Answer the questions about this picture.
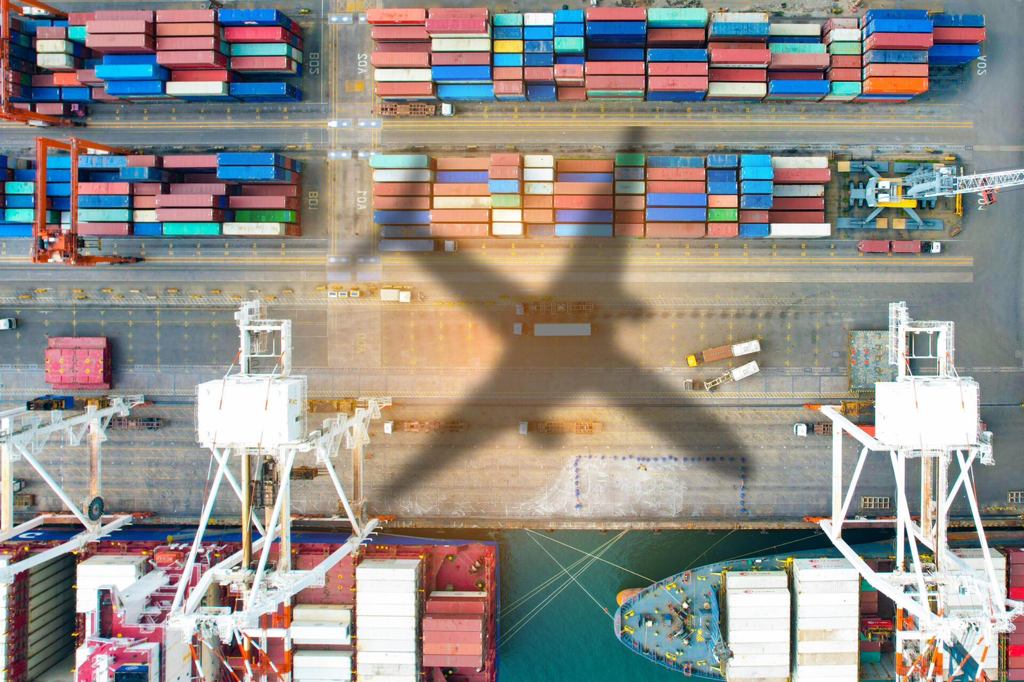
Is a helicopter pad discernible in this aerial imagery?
No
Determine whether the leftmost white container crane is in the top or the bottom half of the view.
bottom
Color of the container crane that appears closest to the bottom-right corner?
white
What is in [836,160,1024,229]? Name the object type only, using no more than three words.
crane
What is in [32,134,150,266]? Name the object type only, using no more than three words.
container crane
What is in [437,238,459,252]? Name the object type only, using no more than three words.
vehicle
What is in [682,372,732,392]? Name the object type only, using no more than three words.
vehicle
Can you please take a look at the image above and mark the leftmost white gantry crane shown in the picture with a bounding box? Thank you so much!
[0,310,156,606]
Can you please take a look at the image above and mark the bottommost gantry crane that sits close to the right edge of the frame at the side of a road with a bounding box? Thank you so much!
[801,294,1014,682]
